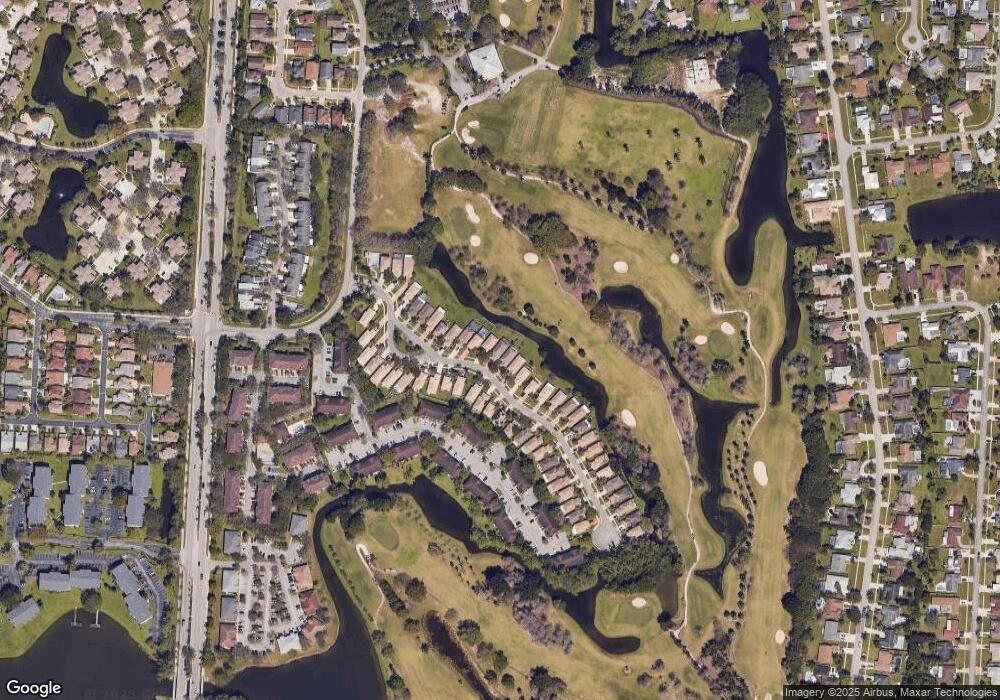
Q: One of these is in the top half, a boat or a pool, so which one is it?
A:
pool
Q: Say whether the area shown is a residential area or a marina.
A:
residential area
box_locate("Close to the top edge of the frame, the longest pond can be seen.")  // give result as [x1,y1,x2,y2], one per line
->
[32,33,109,139]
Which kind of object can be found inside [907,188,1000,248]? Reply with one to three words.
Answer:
pond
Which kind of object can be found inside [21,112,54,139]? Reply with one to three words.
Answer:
swimming pool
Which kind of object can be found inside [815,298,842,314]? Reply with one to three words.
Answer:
house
